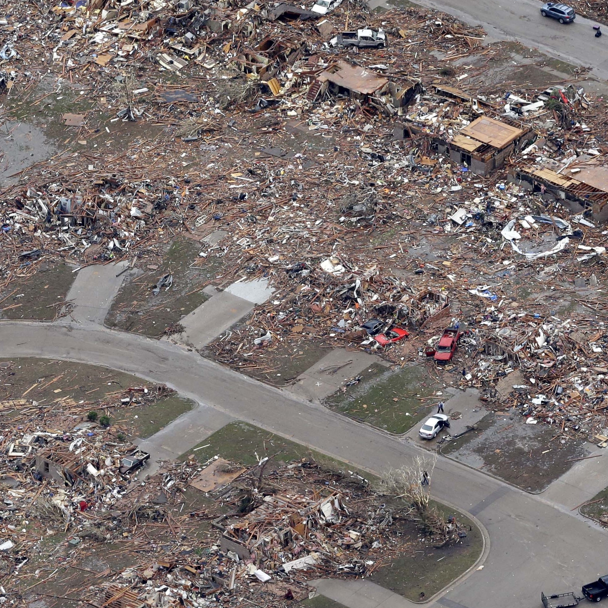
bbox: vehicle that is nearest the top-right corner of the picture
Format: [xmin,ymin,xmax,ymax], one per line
[538,1,577,23]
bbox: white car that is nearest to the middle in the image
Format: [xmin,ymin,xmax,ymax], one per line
[418,415,449,440]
